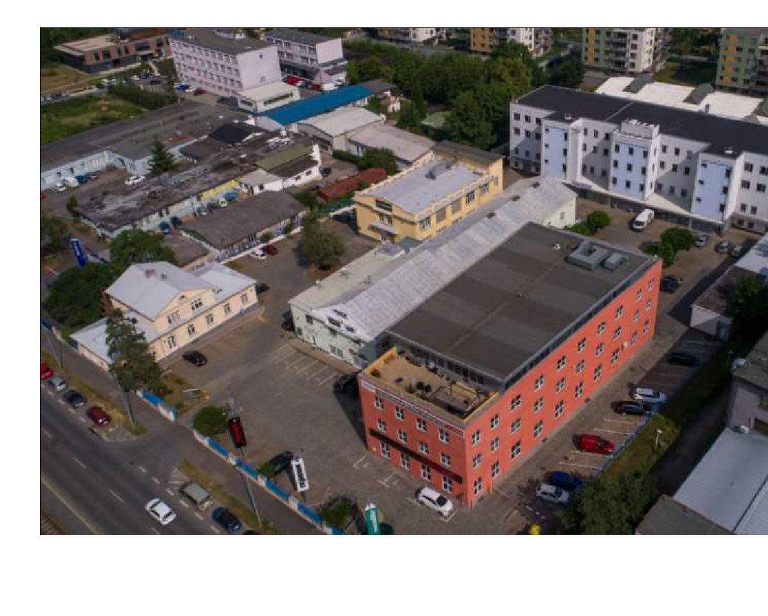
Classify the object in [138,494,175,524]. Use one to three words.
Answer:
car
